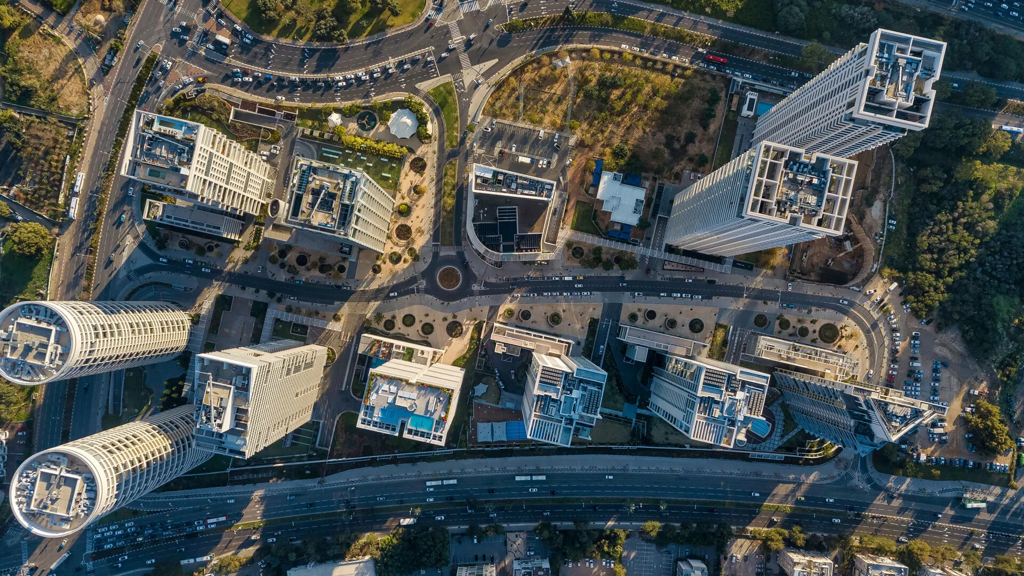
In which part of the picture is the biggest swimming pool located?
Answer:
bottom right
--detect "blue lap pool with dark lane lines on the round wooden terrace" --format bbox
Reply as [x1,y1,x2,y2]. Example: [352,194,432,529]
[743,404,781,442]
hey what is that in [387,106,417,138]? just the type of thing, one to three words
tent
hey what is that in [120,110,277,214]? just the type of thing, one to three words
building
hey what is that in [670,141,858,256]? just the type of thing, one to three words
building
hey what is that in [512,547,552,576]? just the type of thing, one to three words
house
